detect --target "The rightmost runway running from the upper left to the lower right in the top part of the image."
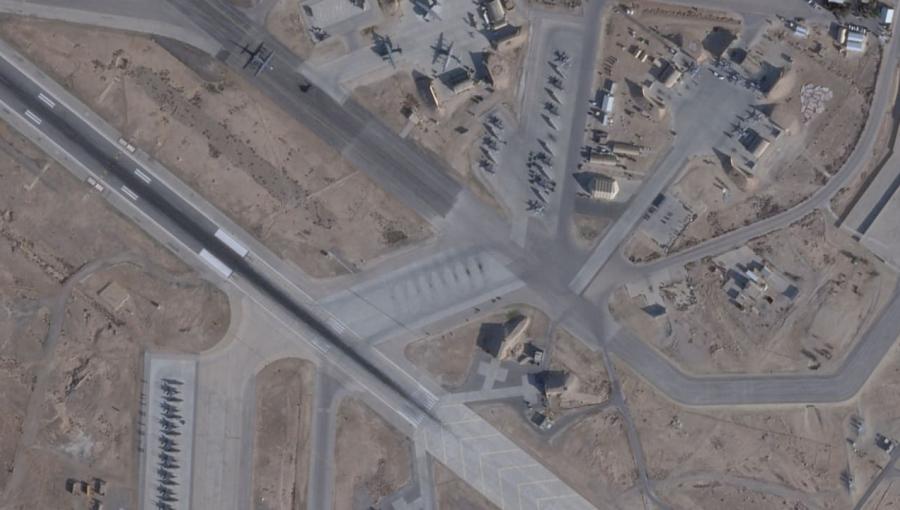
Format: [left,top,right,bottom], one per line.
[150,0,465,219]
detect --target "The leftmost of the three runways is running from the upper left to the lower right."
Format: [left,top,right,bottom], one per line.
[0,53,257,285]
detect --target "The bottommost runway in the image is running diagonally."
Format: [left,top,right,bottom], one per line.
[231,253,434,426]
